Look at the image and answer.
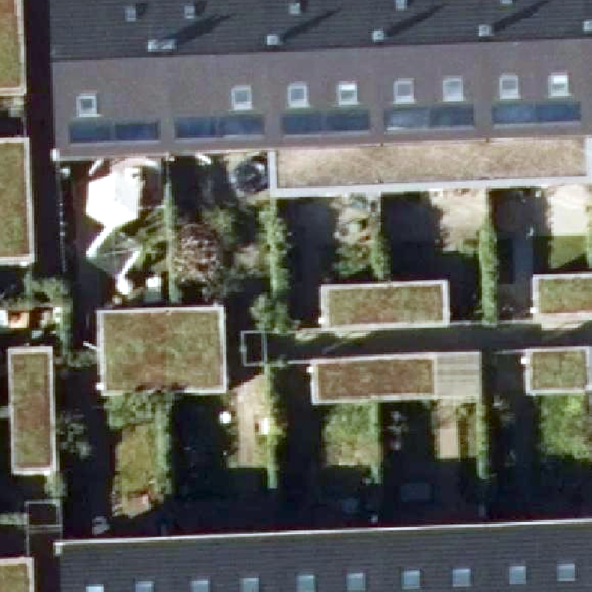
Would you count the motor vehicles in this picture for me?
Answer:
0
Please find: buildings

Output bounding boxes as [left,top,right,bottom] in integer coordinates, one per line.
[8,346,55,474]
[318,282,449,328]
[54,519,592,592]
[0,137,34,265]
[0,558,34,592]
[97,306,227,393]
[520,347,592,394]
[307,357,437,404]
[48,0,592,197]
[529,274,592,320]
[0,0,26,95]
